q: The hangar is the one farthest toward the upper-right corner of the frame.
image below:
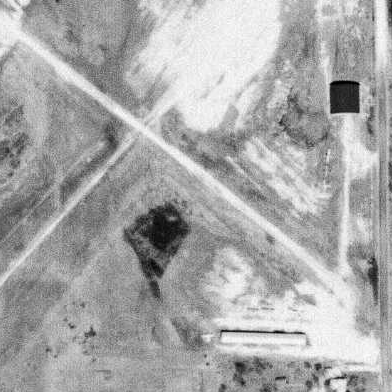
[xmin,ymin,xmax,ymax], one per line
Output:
[331,84,360,114]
